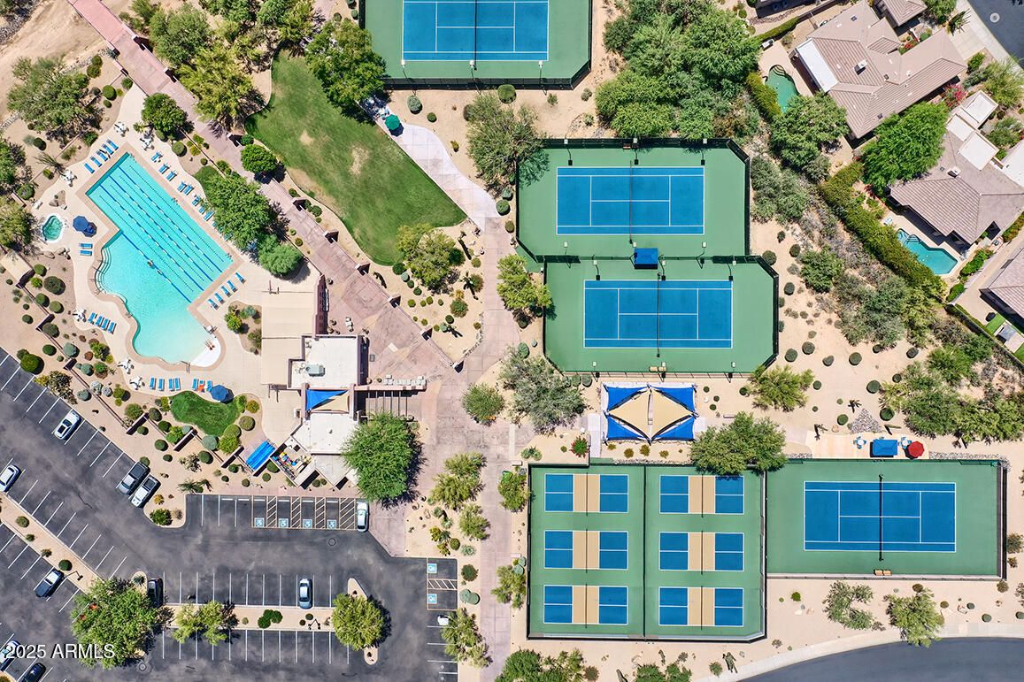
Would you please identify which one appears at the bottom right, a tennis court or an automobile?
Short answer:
tennis court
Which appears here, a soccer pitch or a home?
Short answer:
home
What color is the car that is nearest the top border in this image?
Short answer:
white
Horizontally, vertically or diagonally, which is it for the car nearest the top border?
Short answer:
diagonally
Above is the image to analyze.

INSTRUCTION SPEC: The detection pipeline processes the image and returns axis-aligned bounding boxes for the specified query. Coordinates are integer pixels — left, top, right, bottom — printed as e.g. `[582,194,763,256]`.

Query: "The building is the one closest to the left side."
[0,251,38,286]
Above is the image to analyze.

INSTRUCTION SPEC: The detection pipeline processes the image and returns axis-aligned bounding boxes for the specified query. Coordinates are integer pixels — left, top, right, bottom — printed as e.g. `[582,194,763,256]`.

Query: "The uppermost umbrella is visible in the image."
[385,116,400,130]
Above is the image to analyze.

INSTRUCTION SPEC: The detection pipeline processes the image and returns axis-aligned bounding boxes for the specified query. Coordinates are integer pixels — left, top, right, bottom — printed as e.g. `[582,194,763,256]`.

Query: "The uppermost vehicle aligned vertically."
[355,500,369,532]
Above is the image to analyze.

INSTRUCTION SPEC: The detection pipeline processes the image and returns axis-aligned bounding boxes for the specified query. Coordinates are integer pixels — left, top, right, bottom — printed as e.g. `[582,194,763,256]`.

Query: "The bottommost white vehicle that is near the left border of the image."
[0,639,20,669]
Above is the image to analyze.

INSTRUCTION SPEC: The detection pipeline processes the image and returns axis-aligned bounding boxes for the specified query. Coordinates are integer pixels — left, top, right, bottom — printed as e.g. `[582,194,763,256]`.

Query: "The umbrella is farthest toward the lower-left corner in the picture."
[211,384,228,401]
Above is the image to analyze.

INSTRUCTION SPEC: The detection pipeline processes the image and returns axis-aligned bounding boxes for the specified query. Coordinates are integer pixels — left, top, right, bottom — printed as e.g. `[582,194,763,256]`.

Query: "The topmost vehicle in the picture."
[53,411,81,440]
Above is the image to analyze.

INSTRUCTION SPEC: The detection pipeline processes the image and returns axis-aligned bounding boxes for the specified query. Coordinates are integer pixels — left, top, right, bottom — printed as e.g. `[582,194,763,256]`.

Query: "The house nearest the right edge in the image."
[981,250,1024,329]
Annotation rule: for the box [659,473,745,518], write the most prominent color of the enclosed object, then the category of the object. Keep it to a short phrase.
blue sports court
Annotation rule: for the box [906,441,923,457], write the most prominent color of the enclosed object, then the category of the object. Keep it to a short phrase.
red umbrella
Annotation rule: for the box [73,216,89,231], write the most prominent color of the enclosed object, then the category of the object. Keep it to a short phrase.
blue umbrella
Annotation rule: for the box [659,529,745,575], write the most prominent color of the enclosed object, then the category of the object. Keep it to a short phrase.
blue sports court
